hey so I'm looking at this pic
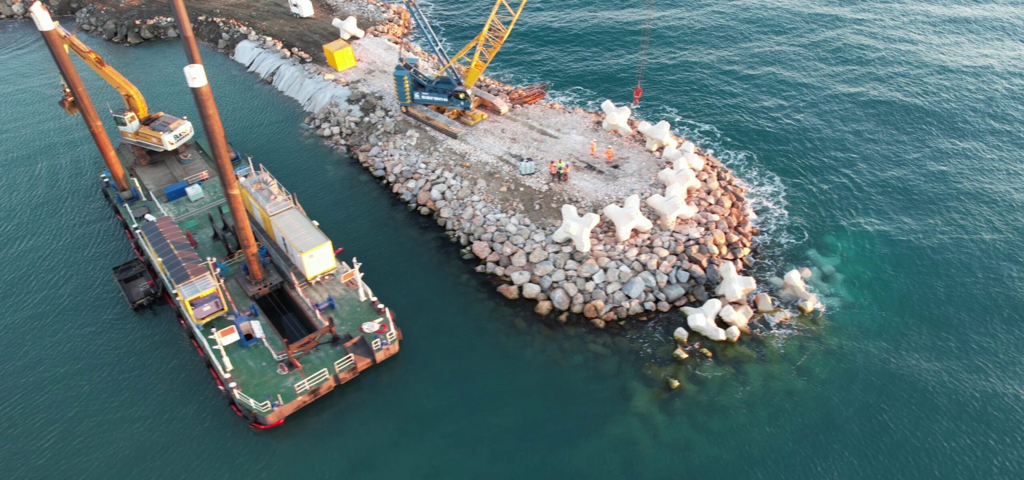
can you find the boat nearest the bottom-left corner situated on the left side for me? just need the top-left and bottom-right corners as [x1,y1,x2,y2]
[113,253,164,315]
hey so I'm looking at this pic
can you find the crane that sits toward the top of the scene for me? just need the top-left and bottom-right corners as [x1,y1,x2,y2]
[382,0,526,139]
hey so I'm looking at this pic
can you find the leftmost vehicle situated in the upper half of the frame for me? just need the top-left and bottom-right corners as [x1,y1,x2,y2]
[49,11,189,167]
